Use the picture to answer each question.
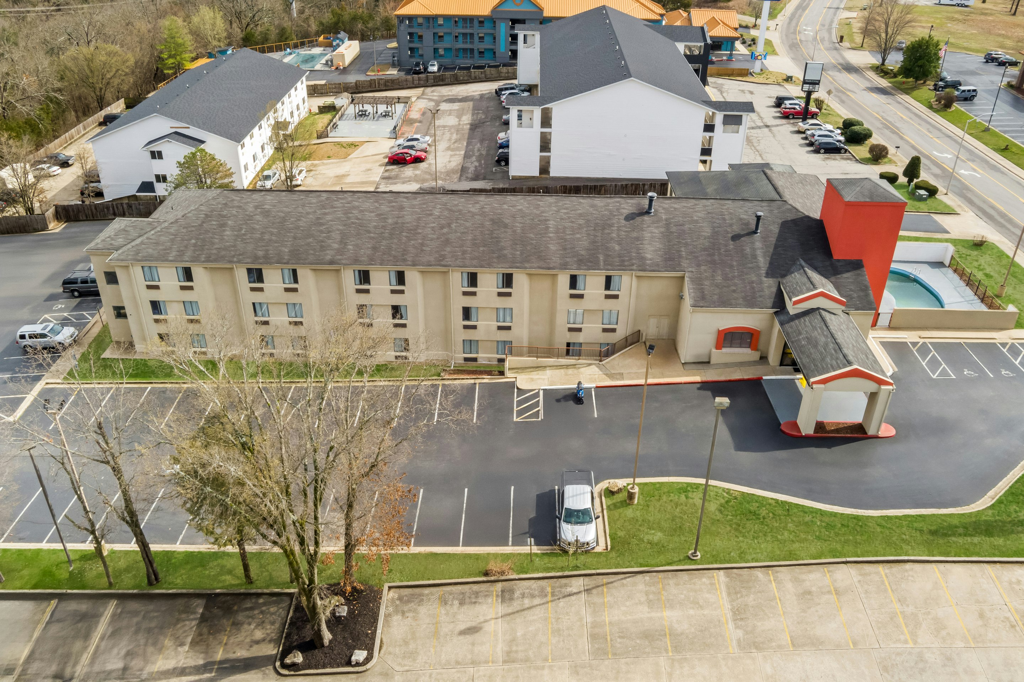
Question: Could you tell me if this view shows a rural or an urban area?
urban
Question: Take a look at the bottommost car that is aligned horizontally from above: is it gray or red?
gray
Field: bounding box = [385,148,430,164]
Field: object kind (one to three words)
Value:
car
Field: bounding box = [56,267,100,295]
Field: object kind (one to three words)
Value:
car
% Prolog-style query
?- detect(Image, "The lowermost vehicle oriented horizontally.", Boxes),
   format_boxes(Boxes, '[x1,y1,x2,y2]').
[9,316,86,349]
